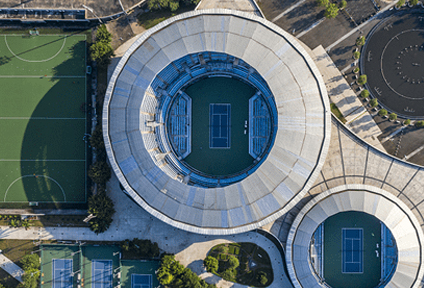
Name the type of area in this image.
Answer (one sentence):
It's a sports ground.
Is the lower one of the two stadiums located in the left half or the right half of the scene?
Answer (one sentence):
It is on the right.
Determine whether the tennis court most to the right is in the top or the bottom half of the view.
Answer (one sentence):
The tennis court most to the right is in the bottom half of the image.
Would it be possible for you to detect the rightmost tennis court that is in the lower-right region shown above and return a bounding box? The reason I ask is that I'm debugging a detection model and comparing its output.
[340,228,365,273]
